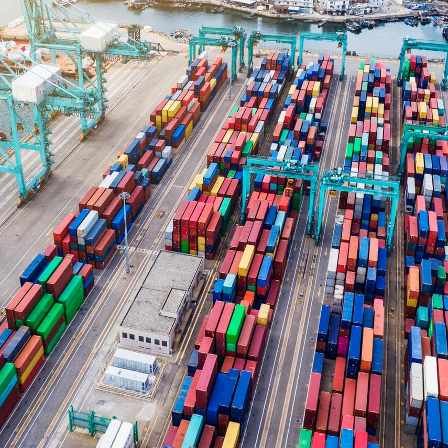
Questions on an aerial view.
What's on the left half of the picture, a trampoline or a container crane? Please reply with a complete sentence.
It is a container crane that can be seen on the left half of the picture.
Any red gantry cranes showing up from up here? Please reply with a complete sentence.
No, I can see no red gantry crane in this picture.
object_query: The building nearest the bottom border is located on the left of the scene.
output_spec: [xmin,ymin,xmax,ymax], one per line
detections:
[118,250,205,355]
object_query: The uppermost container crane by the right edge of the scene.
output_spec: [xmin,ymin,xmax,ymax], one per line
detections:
[396,37,448,89]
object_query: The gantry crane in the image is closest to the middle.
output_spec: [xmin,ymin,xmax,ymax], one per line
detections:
[239,158,318,236]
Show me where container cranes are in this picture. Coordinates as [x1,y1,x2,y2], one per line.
[0,36,100,207]
[396,37,448,89]
[297,31,347,78]
[239,158,318,236]
[395,129,448,189]
[248,30,297,80]
[25,0,154,138]
[205,21,250,68]
[188,35,236,83]
[315,174,400,258]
